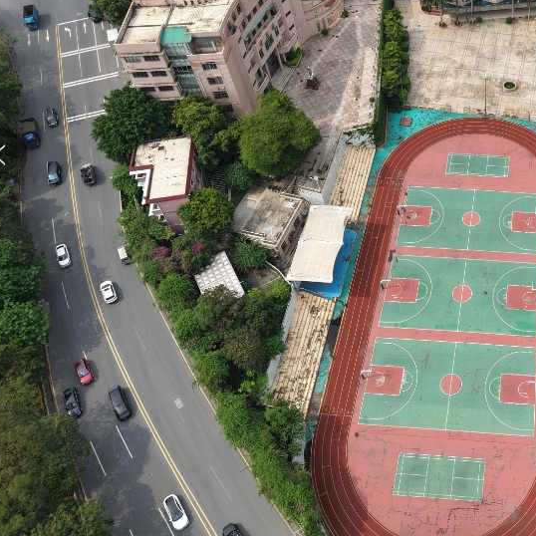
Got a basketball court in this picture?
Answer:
Yes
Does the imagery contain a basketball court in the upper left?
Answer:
No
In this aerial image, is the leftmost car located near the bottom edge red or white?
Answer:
white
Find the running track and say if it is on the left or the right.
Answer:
right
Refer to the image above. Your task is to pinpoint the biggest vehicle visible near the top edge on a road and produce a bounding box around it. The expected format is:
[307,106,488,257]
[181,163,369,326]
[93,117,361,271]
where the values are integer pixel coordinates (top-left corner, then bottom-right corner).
[23,6,38,27]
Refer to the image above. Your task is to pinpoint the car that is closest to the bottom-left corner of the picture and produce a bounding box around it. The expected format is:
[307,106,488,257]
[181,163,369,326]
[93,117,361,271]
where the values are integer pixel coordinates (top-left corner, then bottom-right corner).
[62,388,83,417]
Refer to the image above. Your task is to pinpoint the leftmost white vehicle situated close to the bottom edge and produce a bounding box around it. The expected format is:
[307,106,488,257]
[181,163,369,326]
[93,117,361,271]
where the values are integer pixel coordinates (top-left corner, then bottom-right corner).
[163,494,190,530]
